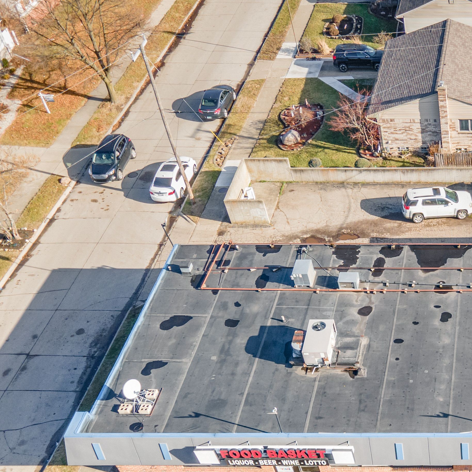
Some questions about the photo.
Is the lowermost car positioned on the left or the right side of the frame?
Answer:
right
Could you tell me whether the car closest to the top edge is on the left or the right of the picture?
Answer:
right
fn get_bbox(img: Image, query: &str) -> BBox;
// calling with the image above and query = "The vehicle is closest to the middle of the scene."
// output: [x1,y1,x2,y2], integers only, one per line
[149,159,194,202]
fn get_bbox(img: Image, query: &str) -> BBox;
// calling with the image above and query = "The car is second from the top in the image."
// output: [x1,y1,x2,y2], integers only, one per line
[198,85,238,119]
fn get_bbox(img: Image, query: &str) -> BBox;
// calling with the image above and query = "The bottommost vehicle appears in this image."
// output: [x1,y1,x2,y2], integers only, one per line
[401,188,472,226]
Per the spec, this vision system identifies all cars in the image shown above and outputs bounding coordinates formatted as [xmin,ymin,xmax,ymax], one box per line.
[333,44,383,71]
[401,188,472,226]
[149,159,194,202]
[91,131,135,179]
[198,85,238,119]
